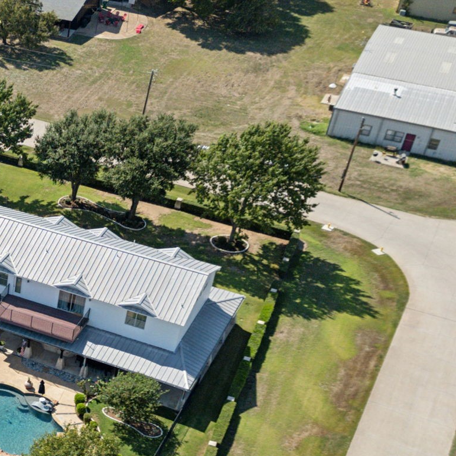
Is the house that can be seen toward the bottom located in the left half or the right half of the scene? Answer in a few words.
left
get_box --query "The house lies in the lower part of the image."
[0,209,241,406]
